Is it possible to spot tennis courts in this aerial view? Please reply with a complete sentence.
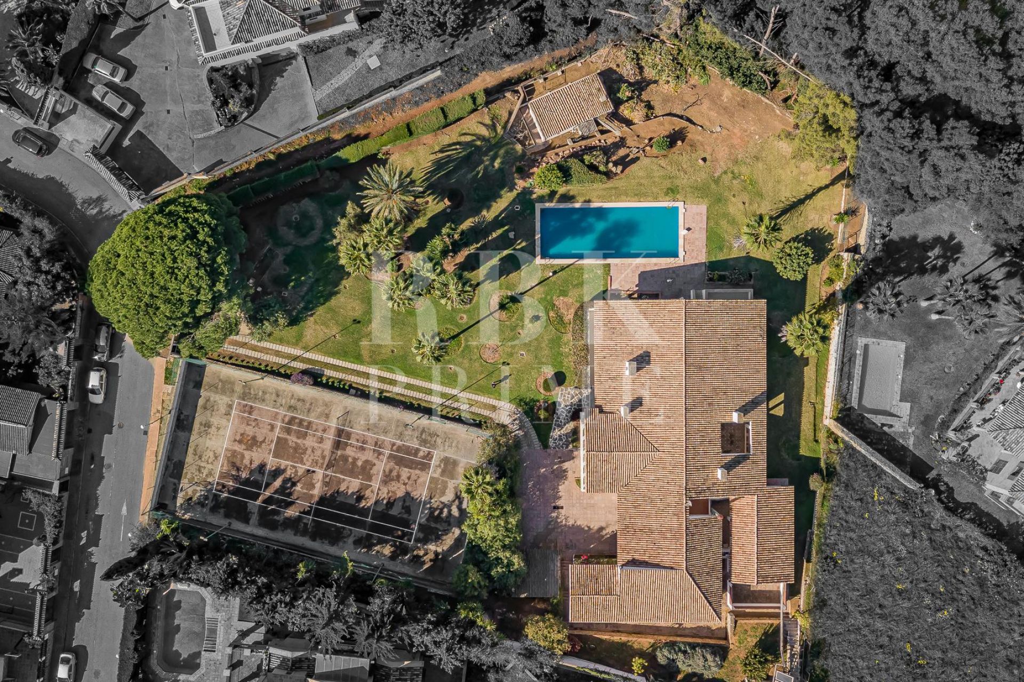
Yes, the picture does show a tennis court.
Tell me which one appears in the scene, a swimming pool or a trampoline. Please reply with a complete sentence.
Of the two, only a swimming pool appears.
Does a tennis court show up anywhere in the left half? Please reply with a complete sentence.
Yes, a tennis court shows up in the left half.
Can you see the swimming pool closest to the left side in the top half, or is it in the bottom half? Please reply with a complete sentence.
The bottom half of the photo is where the swimming pool closest to the left side is.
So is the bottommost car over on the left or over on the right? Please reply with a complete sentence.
The bottommost car is on the left side of the image.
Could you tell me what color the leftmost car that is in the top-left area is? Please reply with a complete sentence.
From above, the leftmost car that is in the top-left area appears black.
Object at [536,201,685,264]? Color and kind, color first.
blue swimming pool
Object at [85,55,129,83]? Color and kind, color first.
gray car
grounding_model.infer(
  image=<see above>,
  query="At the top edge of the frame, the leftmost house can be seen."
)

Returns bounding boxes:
[183,0,363,72]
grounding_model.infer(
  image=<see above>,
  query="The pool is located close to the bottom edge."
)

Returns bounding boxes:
[150,583,214,681]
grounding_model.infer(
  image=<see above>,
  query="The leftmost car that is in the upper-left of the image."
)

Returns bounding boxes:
[13,130,52,159]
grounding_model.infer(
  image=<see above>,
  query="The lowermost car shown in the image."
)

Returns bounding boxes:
[57,649,80,682]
